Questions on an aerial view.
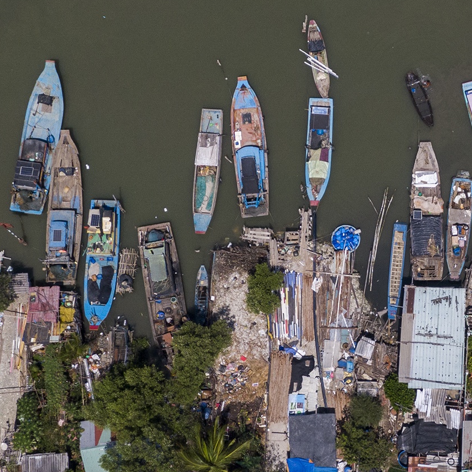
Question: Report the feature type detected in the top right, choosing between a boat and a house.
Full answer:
There is a boat in the top right.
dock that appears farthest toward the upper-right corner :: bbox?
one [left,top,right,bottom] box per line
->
[298,210,313,250]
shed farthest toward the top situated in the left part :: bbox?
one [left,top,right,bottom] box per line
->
[27,286,73,322]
